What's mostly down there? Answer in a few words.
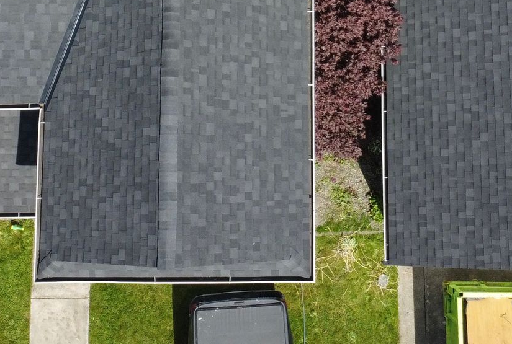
buildings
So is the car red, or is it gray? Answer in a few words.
gray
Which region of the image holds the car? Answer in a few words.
bottom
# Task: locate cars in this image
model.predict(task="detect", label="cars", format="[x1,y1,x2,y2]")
[191,284,293,344]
